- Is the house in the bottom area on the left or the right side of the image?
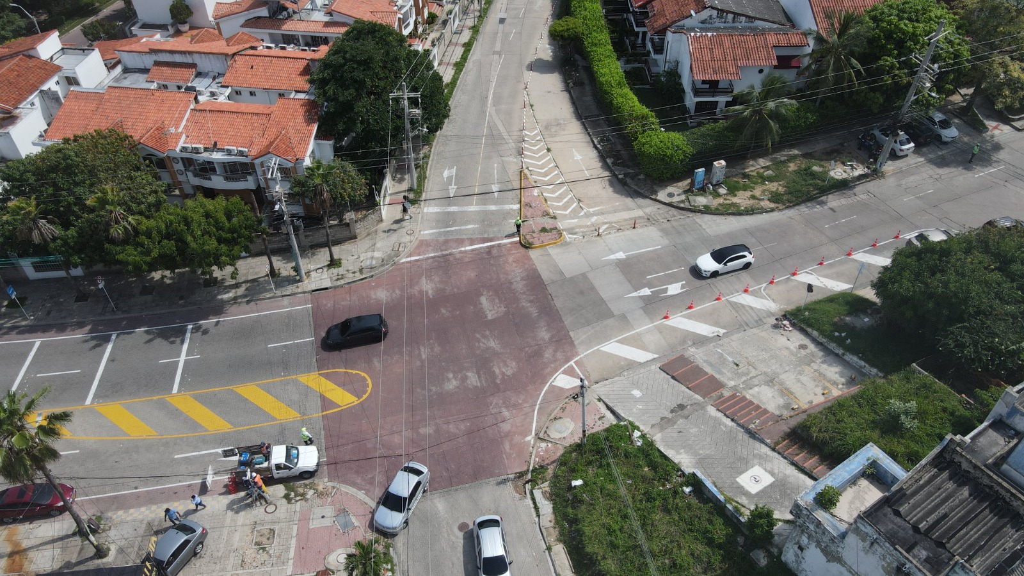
right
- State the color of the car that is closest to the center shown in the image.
black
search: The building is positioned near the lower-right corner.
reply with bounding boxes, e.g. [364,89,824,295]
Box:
[773,385,1024,576]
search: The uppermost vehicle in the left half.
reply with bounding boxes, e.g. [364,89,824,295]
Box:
[325,310,391,350]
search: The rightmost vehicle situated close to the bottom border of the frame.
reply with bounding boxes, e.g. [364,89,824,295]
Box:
[472,512,516,576]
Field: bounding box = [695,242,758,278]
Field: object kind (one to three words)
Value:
car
